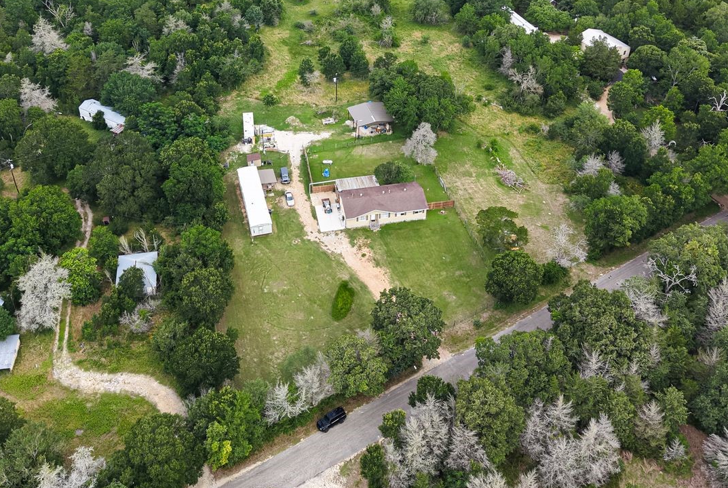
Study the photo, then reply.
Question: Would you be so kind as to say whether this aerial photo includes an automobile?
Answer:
Yes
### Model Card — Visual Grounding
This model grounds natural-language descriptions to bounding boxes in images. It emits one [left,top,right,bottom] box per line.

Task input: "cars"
[280,167,290,184]
[316,406,348,433]
[285,192,296,207]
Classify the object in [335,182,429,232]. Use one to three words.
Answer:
house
